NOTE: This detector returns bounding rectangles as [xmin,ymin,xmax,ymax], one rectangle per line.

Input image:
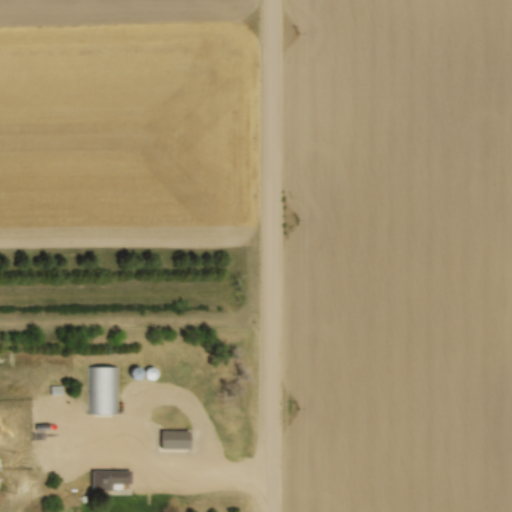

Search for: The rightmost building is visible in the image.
[162,430,193,449]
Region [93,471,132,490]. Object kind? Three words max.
house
